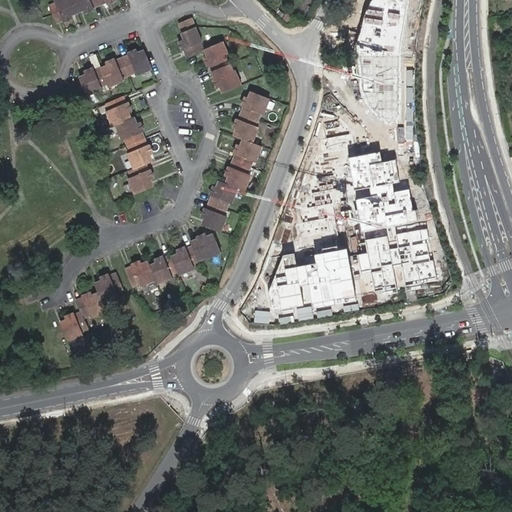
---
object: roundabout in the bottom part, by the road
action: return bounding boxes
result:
[174,328,252,404]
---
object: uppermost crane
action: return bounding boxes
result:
[224,37,388,88]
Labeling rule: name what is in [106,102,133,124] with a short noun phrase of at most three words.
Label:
house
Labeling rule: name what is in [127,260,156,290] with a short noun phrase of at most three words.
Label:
house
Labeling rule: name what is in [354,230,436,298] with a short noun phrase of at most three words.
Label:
building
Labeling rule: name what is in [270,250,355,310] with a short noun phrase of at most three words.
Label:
building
